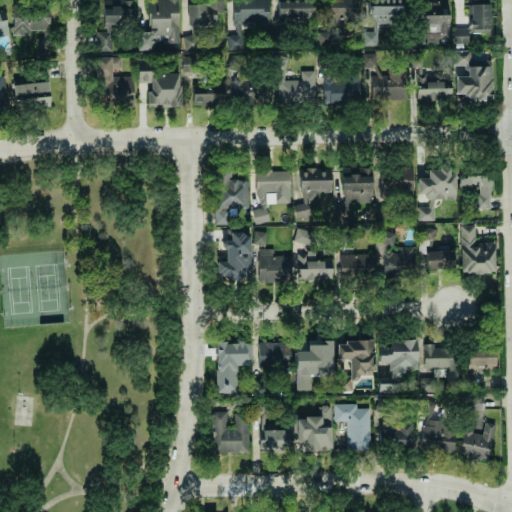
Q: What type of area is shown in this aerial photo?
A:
residential area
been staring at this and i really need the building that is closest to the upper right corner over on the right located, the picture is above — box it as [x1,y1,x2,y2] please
[469,4,494,34]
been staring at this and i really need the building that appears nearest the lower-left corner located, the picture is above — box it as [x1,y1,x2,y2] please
[213,411,250,454]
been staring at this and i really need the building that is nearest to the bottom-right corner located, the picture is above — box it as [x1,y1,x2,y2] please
[463,422,494,461]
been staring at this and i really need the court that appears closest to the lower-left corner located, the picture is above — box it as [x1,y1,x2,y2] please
[15,396,34,426]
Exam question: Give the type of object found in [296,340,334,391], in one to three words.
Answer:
house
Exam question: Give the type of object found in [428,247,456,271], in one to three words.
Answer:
house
